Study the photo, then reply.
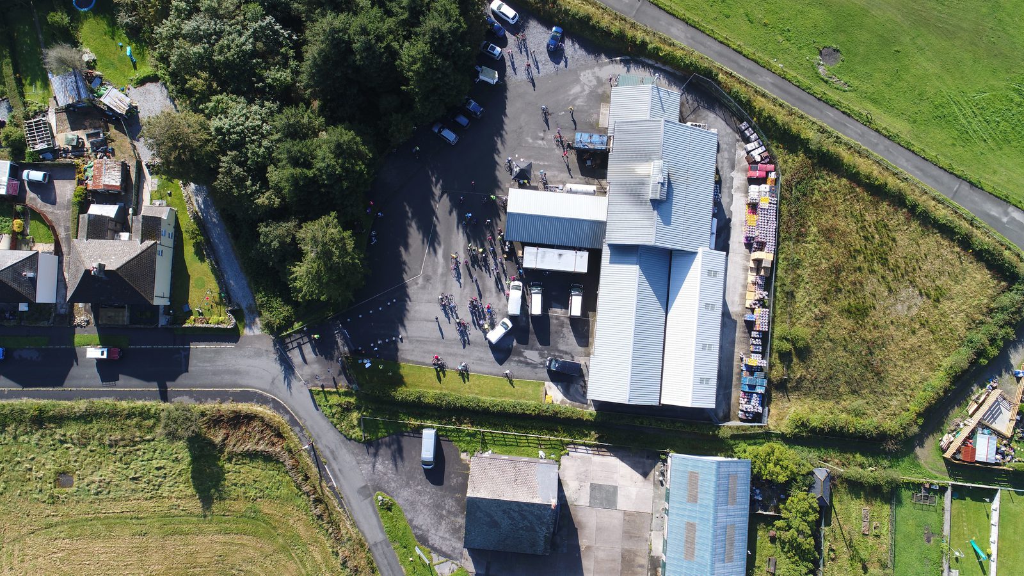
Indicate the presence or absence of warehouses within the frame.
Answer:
Yes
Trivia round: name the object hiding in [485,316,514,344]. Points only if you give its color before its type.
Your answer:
white van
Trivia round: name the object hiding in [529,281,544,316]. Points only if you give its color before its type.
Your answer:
white vehicle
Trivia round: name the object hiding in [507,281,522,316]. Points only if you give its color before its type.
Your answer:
white vehicle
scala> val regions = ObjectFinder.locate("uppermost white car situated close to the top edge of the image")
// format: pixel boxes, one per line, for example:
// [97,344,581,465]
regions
[490,0,521,27]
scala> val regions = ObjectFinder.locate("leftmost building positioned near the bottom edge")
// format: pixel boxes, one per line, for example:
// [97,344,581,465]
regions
[464,450,559,555]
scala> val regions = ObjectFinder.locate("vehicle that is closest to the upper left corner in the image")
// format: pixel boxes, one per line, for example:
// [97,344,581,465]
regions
[24,168,53,184]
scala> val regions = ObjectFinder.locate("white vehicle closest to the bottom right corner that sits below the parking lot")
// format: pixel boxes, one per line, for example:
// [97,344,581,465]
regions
[569,283,584,318]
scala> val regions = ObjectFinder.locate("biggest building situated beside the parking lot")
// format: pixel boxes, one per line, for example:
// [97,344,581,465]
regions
[587,85,726,408]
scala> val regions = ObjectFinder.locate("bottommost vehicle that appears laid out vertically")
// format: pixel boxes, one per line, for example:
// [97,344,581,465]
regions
[420,428,437,468]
